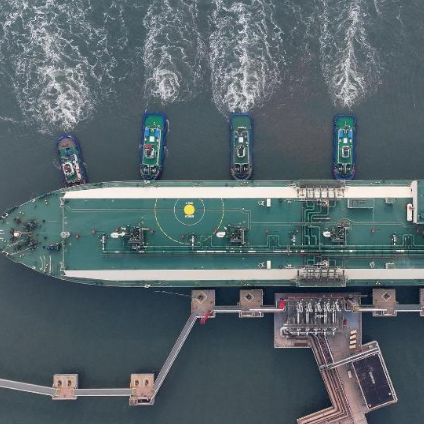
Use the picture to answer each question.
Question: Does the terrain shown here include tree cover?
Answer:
No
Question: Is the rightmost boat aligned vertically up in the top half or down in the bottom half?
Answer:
top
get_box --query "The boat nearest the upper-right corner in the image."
[332,113,357,180]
